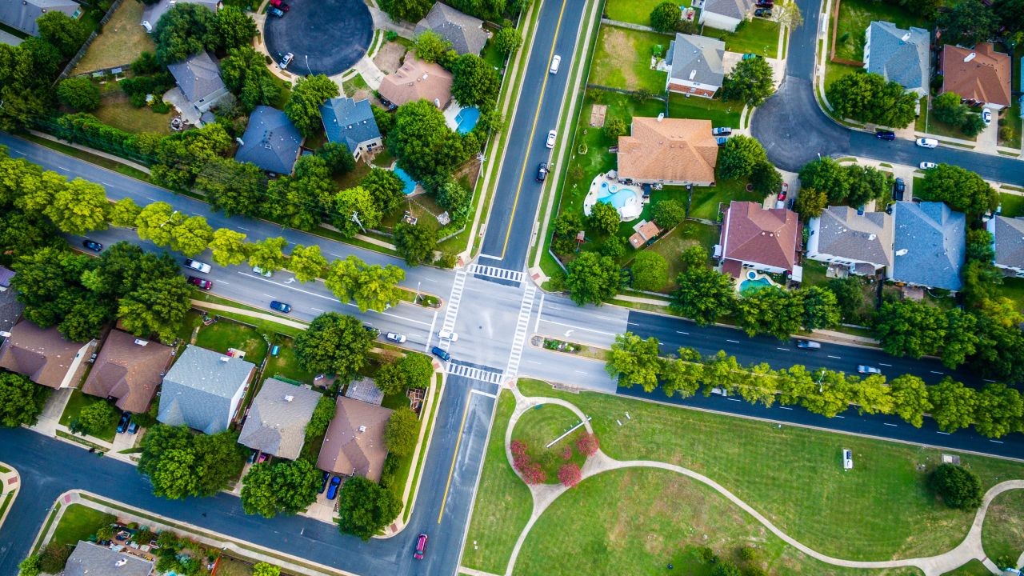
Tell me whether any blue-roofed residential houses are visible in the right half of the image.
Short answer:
Yes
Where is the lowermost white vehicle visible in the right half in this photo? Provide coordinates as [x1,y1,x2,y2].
[841,447,854,471]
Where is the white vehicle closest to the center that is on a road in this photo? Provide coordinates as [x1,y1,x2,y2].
[437,330,458,342]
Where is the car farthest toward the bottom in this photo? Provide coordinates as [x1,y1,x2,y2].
[414,534,427,558]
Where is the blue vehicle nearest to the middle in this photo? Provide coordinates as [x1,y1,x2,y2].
[430,345,451,360]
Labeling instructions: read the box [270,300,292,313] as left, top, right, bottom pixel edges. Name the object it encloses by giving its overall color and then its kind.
blue vehicle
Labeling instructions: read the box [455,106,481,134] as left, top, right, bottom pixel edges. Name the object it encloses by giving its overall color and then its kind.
blue swimming pool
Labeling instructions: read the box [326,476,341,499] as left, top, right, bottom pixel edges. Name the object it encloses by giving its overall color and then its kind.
blue car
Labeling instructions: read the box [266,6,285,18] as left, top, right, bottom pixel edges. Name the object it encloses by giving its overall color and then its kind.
blue vehicle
